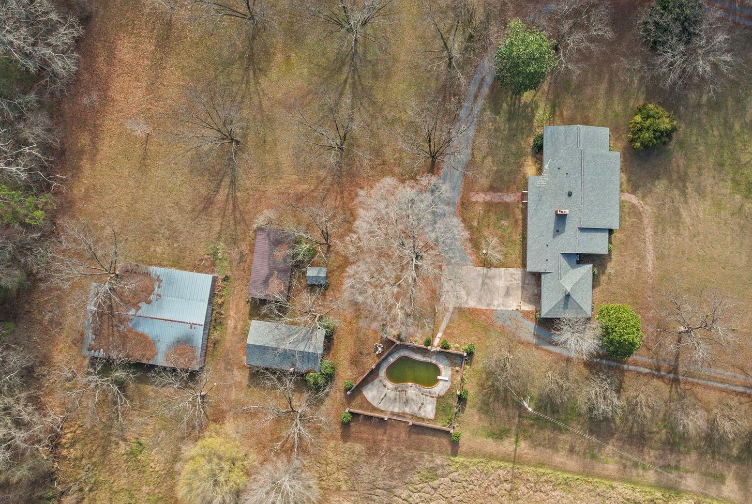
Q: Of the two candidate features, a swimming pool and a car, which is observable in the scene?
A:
swimming pool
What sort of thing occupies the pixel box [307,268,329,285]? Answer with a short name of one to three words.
shed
